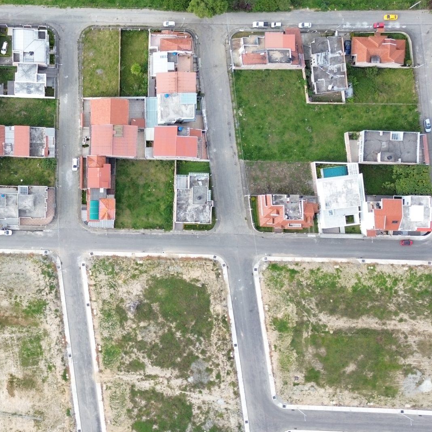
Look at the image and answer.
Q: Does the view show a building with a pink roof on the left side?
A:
Yes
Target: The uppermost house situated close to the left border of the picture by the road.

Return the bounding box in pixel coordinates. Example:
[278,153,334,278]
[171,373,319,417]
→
[8,27,49,66]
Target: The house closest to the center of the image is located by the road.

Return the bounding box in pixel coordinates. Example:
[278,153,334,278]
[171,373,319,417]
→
[175,173,213,224]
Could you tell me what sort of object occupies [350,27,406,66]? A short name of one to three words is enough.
house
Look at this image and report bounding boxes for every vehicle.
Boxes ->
[299,21,312,28]
[372,22,385,28]
[0,40,8,55]
[344,40,351,56]
[0,229,12,236]
[384,14,398,20]
[72,157,78,171]
[164,20,175,27]
[424,119,431,132]
[252,20,268,28]
[272,21,282,28]
[401,239,413,246]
